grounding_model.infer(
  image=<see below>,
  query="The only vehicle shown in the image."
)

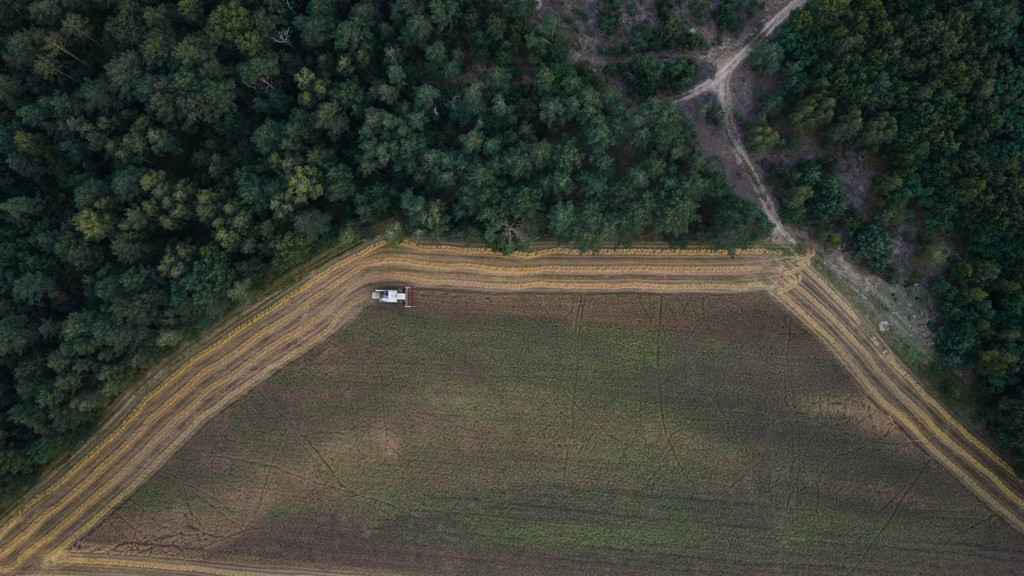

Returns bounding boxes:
[371,287,412,307]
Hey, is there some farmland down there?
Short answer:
Yes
